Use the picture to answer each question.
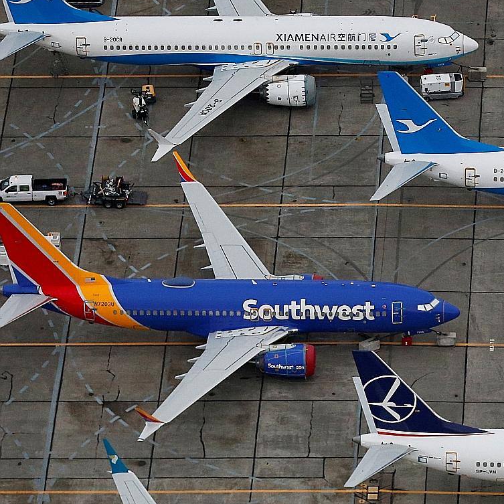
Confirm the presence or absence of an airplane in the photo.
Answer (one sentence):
Yes, there's an airplane down there.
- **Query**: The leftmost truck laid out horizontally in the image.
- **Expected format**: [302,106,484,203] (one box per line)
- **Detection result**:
[0,171,76,203]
